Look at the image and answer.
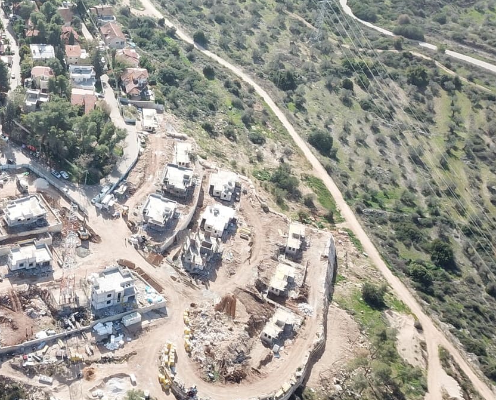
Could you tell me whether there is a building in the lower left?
Yes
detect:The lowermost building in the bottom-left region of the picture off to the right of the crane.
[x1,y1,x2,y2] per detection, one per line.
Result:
[116,307,151,328]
